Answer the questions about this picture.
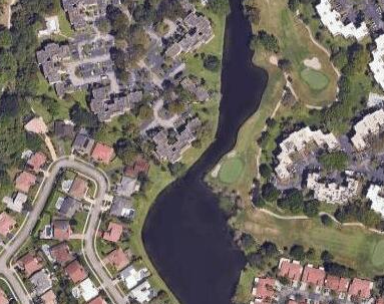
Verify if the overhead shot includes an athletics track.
No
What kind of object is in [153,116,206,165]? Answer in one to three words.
building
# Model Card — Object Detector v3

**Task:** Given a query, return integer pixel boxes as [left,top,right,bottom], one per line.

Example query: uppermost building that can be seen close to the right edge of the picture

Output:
[316,0,368,41]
